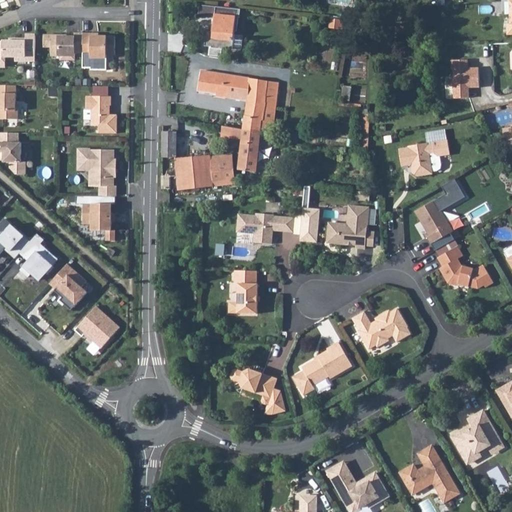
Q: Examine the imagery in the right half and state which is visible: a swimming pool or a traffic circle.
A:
swimming pool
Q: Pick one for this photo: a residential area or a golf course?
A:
residential area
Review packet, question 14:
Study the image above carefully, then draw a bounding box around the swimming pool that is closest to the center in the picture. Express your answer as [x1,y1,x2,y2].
[231,244,250,260]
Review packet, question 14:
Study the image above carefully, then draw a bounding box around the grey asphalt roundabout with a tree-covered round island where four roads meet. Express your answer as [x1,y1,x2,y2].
[115,376,185,446]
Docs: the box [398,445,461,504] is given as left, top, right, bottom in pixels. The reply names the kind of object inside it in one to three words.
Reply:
house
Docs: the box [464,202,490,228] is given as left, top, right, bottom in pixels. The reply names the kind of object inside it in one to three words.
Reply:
swimming pool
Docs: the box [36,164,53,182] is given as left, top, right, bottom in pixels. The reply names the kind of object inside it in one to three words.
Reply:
swimming pool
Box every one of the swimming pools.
[491,226,512,242]
[464,202,490,228]
[68,173,81,186]
[36,164,53,182]
[231,244,250,260]
[328,0,354,6]
[322,208,338,220]
[494,108,512,128]
[478,4,494,14]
